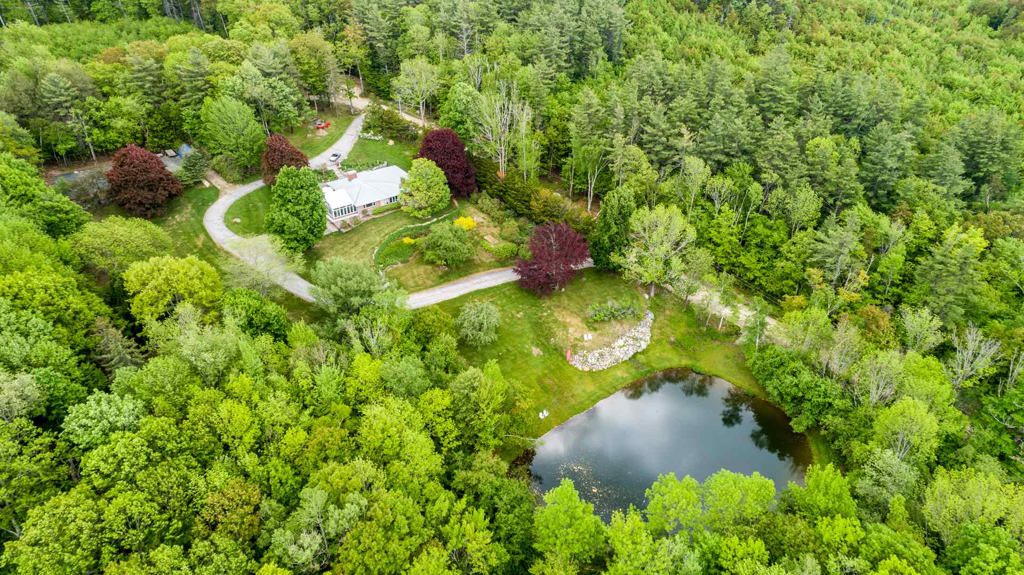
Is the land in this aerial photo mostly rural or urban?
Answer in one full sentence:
It looks rural.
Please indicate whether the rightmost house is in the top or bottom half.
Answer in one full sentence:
The top half of the photo is where the rightmost house is.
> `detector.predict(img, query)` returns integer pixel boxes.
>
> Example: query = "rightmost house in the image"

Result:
[322,165,410,222]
